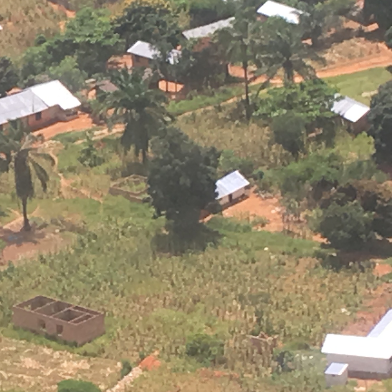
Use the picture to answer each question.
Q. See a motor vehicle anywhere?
No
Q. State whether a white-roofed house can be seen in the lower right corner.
Yes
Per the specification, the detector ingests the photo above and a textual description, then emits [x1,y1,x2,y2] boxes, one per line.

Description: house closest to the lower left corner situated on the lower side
[14,295,104,344]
